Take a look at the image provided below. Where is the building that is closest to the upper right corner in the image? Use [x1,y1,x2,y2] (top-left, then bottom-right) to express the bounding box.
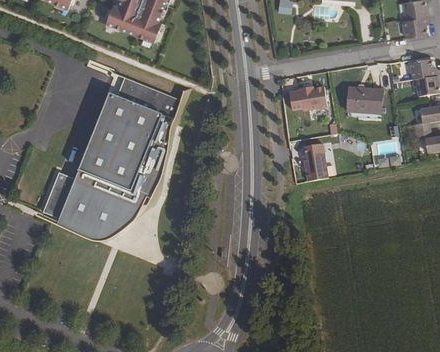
[400,0,432,40]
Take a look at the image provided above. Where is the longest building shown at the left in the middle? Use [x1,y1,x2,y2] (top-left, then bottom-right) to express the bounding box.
[44,74,178,240]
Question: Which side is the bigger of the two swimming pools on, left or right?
right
